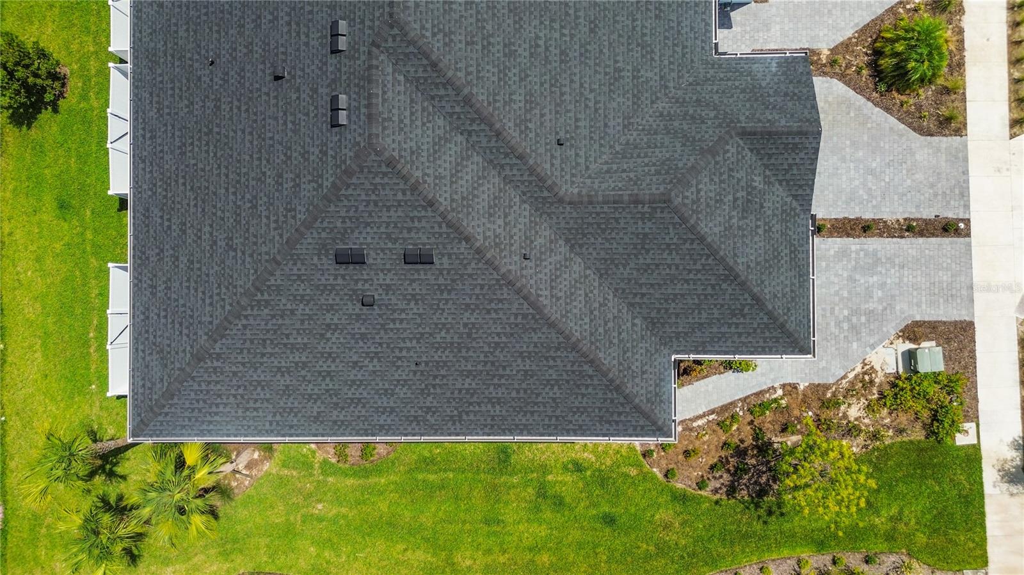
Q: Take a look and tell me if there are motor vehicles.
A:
No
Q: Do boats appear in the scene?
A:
No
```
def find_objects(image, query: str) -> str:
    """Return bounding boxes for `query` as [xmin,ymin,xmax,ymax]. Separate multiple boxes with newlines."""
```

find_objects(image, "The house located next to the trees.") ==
[126,0,821,444]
